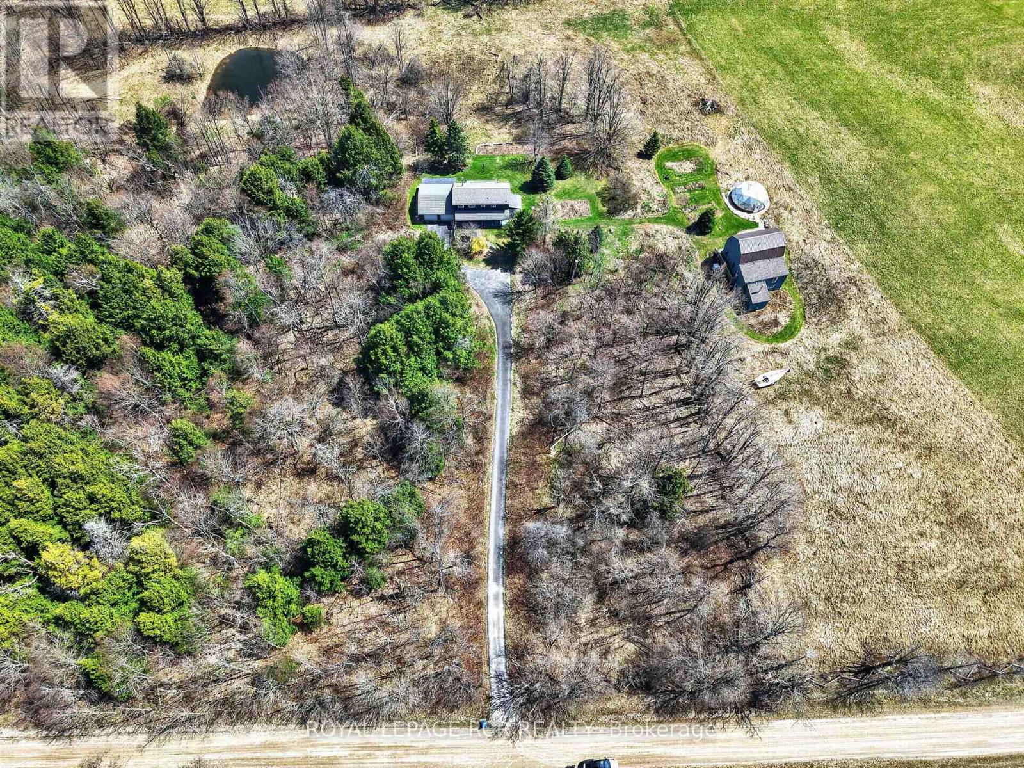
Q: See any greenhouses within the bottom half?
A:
No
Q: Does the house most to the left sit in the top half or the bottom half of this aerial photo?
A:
top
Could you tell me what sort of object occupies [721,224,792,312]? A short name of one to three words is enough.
barn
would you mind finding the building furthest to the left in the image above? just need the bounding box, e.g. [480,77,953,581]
[417,177,520,231]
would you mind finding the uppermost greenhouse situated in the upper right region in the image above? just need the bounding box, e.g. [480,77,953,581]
[730,179,770,215]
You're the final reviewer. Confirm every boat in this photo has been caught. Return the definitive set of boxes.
[755,368,790,387]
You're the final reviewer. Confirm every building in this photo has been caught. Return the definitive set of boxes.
[721,224,792,312]
[730,179,770,215]
[417,177,520,231]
